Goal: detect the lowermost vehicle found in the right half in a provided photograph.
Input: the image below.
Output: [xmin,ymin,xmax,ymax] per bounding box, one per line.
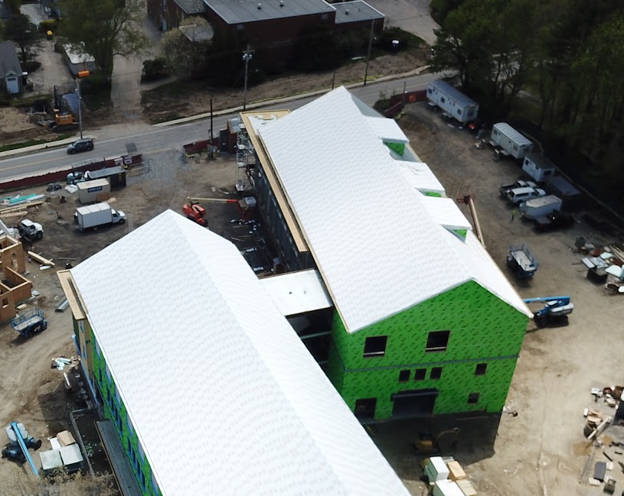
[420,415,463,457]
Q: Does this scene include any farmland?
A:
No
